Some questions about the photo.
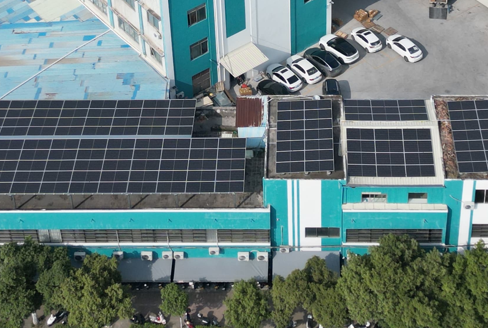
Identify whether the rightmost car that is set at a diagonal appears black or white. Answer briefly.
white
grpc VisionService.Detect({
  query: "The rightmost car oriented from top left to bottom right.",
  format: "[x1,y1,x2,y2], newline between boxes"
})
[384,34,424,64]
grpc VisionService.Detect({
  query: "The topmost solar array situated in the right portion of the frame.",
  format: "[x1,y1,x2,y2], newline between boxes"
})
[344,98,429,117]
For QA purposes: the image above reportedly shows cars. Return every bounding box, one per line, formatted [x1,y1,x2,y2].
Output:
[284,52,322,83]
[318,34,359,65]
[264,61,306,92]
[255,78,296,97]
[322,81,343,95]
[301,46,343,77]
[384,34,424,64]
[348,26,385,54]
